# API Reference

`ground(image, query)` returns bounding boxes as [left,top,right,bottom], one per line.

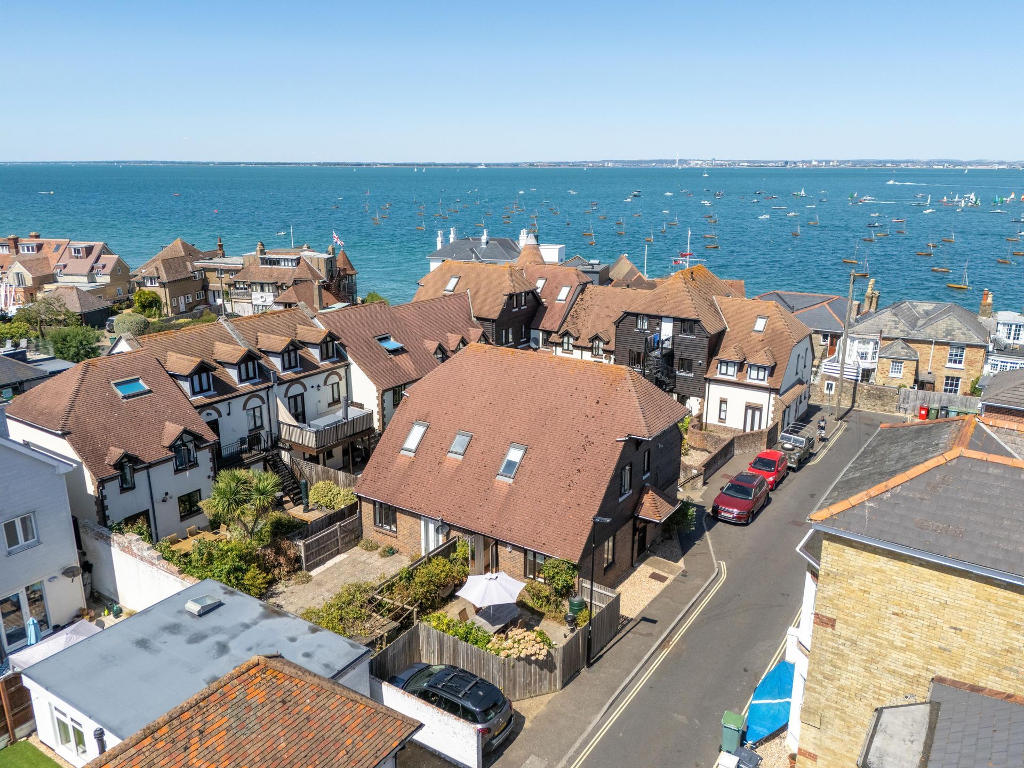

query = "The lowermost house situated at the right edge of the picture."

[788,413,1024,768]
